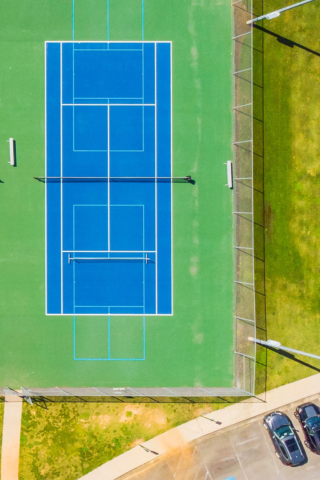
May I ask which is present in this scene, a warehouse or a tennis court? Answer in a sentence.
Visible in the photo is a tennis court.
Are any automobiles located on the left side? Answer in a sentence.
No, I see no automobile on the left side.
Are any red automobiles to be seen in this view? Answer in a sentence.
No, I can see no red automobile in this picture.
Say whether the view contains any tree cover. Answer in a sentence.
No, the scene doesn't show any tree cover.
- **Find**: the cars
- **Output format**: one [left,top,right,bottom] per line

[261,412,304,468]
[296,400,320,456]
